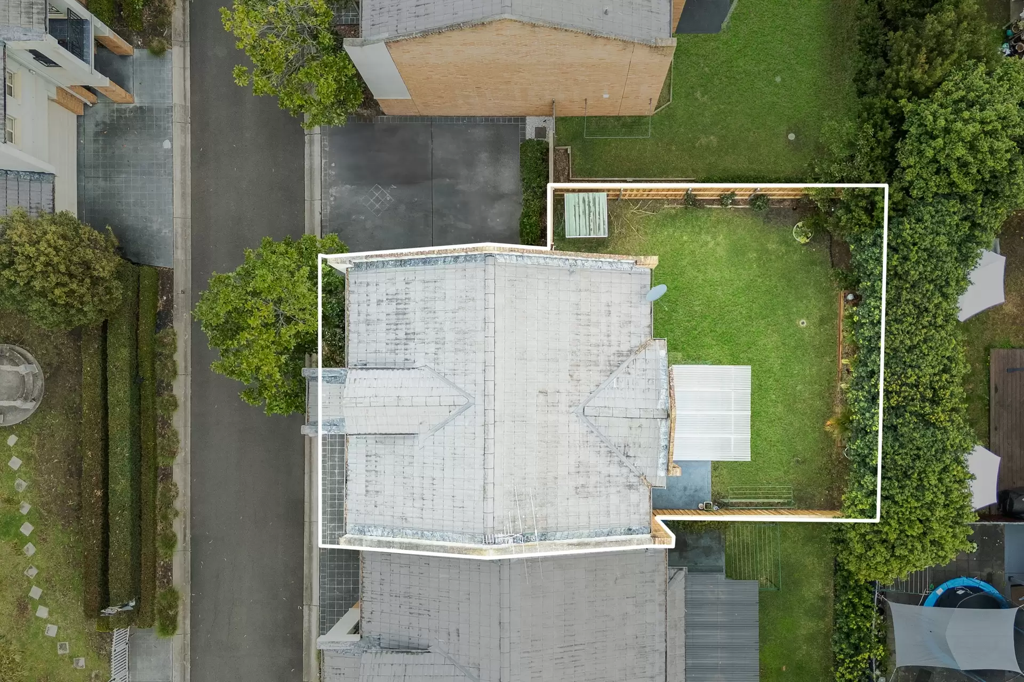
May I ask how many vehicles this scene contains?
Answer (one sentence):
Not a single vehicle can be seen.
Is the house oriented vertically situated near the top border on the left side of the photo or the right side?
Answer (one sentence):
The house oriented vertically situated near the top border is on the left side of the image.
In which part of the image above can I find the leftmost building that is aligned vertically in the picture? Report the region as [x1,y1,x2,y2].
[0,0,110,237]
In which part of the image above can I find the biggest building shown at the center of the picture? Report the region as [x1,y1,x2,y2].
[301,254,682,544]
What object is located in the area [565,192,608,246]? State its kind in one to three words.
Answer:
shed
